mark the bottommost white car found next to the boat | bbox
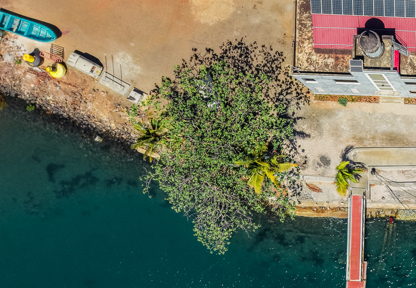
[61,48,103,78]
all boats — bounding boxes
[0,10,58,42]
